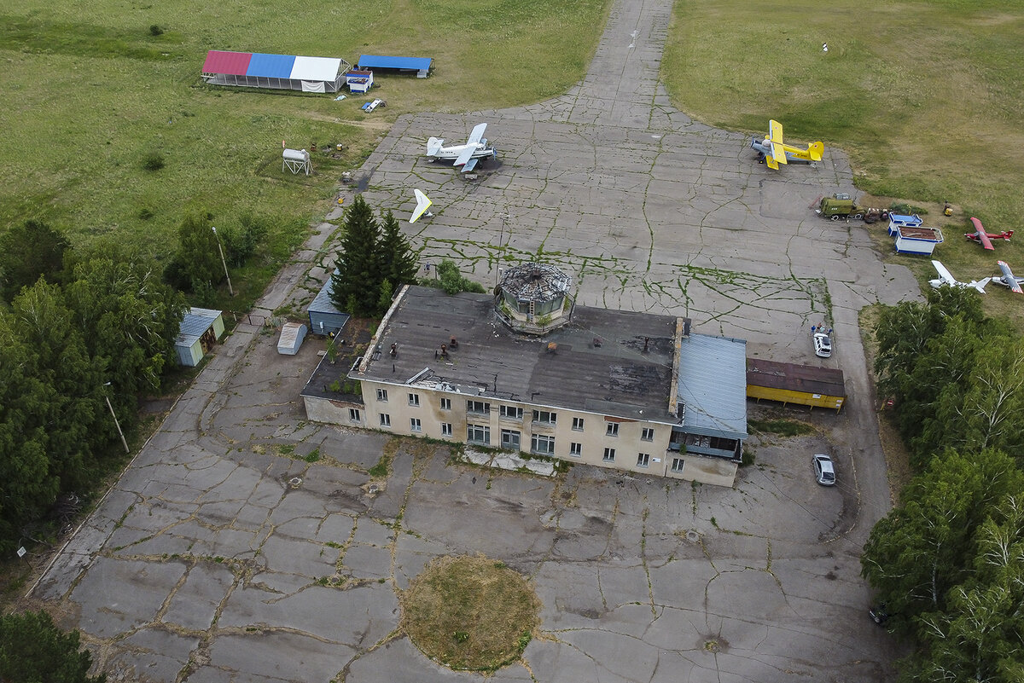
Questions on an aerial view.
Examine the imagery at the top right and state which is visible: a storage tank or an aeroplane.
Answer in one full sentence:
What appears at the top right is an aeroplane.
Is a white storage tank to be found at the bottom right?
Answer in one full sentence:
No, I can find no white storage tank at the bottom right.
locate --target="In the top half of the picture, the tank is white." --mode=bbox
[278,148,315,177]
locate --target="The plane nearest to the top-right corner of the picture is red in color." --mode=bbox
[965,217,1022,248]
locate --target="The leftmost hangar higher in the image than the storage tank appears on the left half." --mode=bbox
[204,50,351,91]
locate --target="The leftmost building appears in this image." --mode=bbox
[173,315,224,367]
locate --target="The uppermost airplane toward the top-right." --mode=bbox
[755,124,830,172]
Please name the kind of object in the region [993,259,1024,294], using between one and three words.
airplane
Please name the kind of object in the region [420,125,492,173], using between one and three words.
airplane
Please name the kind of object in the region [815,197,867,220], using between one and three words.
truck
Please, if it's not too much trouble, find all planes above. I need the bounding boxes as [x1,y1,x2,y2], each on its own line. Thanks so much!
[420,125,492,173]
[993,259,1024,294]
[965,217,1022,248]
[755,124,830,172]
[926,256,995,301]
